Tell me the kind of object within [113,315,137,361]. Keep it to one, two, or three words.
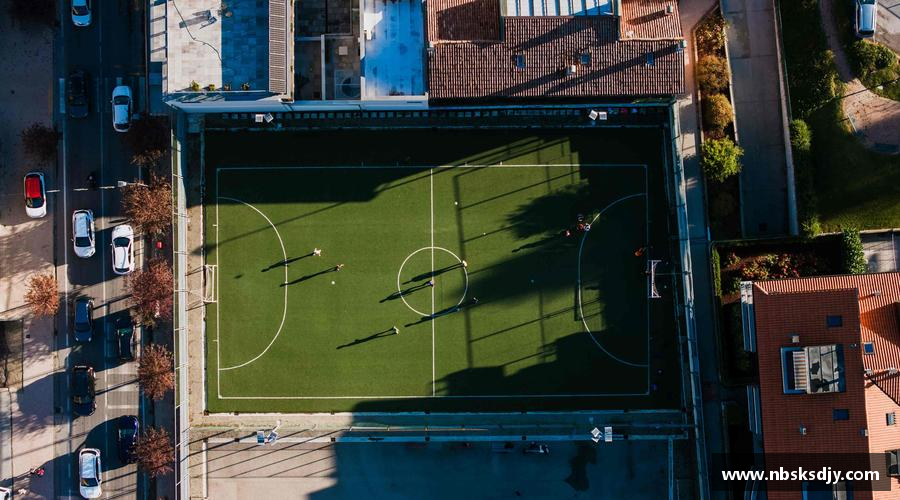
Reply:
car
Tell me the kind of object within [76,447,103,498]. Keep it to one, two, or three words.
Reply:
car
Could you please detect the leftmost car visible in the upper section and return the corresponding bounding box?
[23,171,49,219]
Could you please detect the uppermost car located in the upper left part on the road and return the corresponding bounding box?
[69,0,93,29]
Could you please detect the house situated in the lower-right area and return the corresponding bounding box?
[738,273,900,500]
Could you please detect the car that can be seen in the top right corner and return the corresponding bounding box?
[853,0,880,40]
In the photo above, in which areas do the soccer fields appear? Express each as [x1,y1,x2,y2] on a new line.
[201,127,685,416]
